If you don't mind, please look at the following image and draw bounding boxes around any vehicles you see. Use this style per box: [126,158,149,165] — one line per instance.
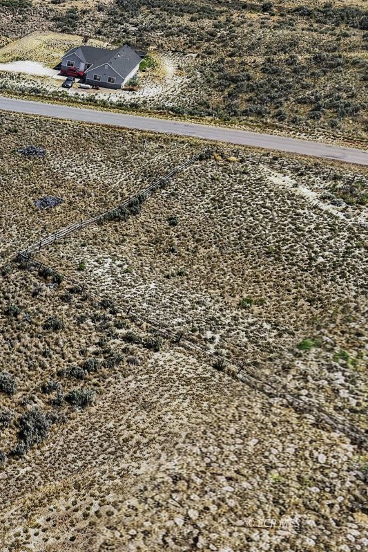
[62,76,76,86]
[58,66,87,77]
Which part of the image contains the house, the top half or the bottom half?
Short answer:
top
